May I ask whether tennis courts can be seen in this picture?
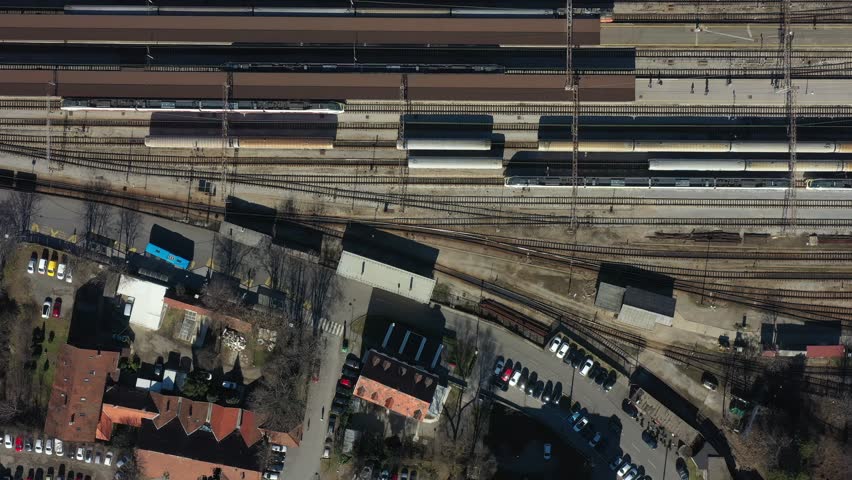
No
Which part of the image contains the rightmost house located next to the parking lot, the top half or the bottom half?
bottom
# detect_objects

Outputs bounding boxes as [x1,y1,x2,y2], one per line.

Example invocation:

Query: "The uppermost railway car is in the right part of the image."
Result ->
[554,7,610,21]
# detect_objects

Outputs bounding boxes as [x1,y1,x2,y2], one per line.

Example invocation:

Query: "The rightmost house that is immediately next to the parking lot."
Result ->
[692,439,731,480]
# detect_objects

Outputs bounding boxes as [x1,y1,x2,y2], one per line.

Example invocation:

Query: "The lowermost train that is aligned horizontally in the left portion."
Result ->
[63,97,345,111]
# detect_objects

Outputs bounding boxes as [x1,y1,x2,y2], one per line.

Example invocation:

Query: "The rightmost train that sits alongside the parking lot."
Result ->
[503,176,790,189]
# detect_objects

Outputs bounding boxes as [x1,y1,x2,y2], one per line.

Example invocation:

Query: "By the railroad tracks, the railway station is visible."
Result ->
[0,14,852,104]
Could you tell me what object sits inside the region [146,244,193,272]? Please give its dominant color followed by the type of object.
blue bus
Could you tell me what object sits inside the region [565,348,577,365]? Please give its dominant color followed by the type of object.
black vehicle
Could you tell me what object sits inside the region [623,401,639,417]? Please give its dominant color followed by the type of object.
black car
